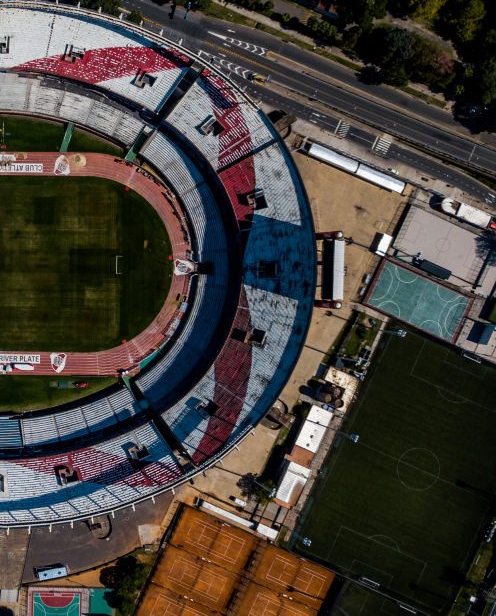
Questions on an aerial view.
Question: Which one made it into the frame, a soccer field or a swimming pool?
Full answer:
Of the two, only a soccer field appears.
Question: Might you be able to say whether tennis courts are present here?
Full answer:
Yes, the picture does show a tennis court.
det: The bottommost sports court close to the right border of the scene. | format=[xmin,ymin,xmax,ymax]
[362,255,476,346]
